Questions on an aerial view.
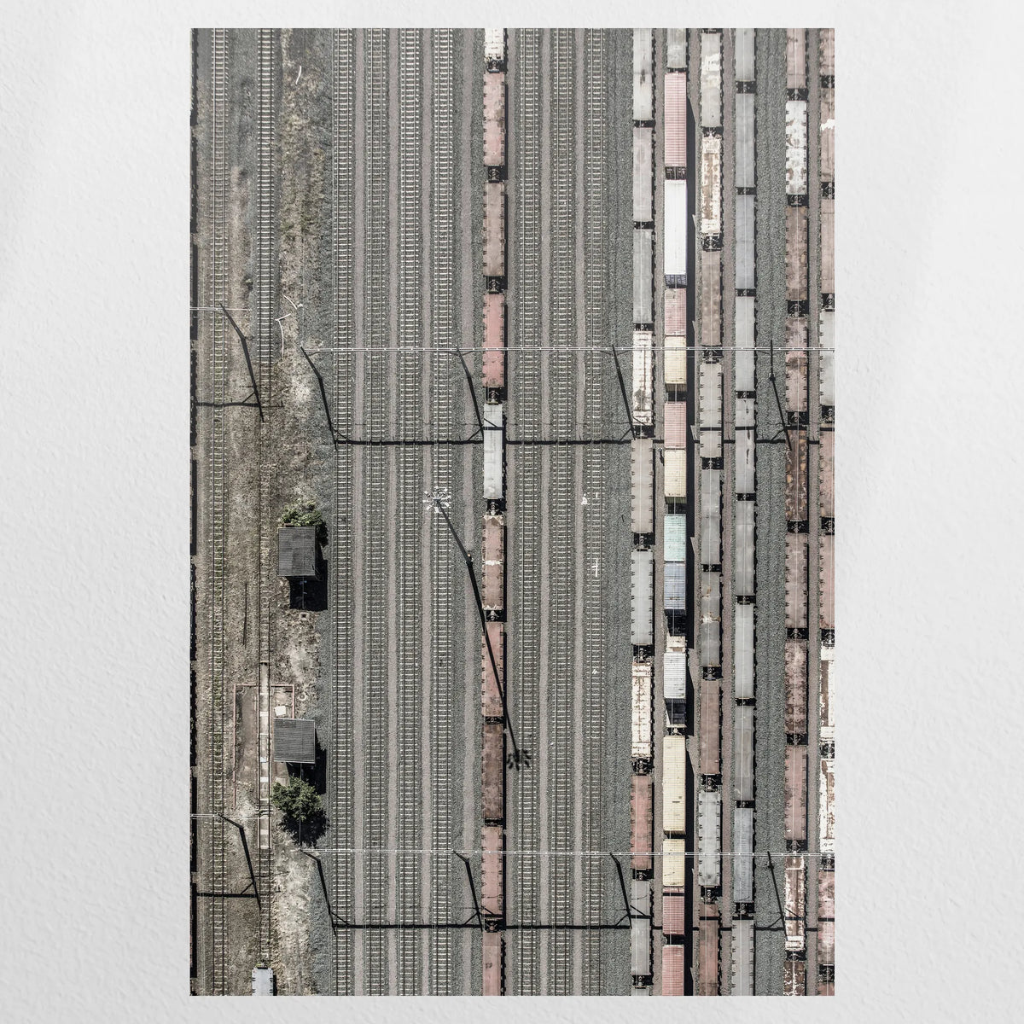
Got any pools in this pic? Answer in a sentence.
No, I find no pool anywhere in the image.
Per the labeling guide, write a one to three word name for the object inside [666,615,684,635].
rail car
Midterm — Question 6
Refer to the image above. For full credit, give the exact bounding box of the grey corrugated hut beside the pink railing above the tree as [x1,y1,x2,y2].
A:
[273,718,319,765]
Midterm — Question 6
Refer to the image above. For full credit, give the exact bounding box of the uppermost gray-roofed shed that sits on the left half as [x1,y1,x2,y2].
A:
[278,527,319,581]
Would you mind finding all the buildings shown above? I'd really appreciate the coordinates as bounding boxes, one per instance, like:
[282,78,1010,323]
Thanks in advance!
[278,527,319,581]
[273,718,319,765]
